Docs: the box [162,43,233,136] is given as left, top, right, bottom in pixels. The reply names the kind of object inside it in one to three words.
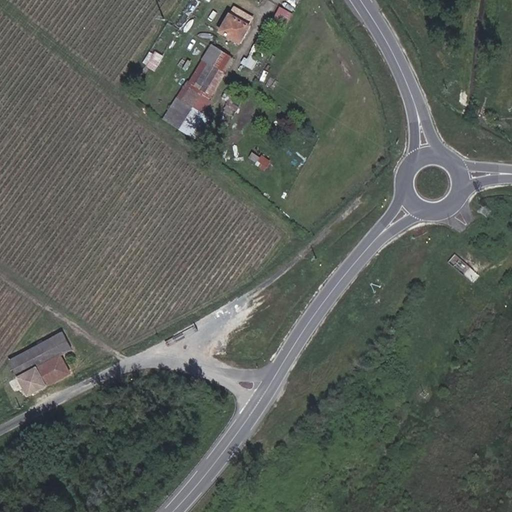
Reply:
barn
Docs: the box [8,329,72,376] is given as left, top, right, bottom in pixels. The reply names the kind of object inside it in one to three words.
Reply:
shed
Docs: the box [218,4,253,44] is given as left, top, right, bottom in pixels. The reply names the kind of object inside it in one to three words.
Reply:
house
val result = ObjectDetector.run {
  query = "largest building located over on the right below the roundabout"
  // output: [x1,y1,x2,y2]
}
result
[448,253,480,283]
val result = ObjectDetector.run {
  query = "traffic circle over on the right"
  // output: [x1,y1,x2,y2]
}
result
[376,112,512,246]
